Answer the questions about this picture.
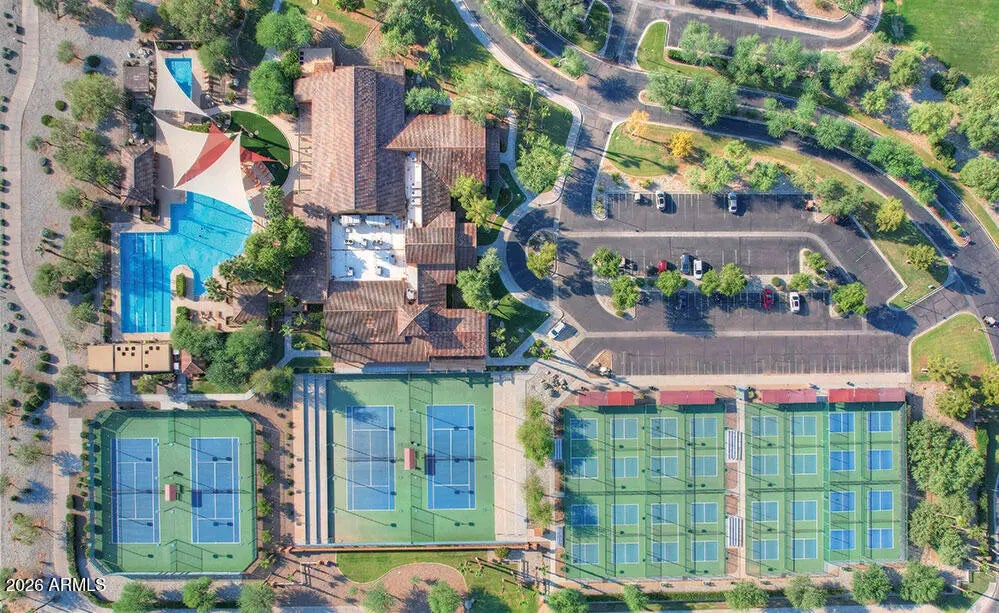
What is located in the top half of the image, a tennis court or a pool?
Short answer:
pool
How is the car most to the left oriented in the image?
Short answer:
on a diagonal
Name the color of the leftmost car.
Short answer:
white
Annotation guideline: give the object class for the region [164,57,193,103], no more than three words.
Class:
swimming pool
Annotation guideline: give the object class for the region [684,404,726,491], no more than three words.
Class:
sports court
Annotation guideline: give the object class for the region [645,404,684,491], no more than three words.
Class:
sports court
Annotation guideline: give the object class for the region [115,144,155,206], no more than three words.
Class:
building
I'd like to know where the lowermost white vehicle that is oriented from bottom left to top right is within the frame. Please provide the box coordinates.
[546,318,567,338]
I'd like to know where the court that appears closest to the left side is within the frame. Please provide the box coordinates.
[96,412,175,573]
